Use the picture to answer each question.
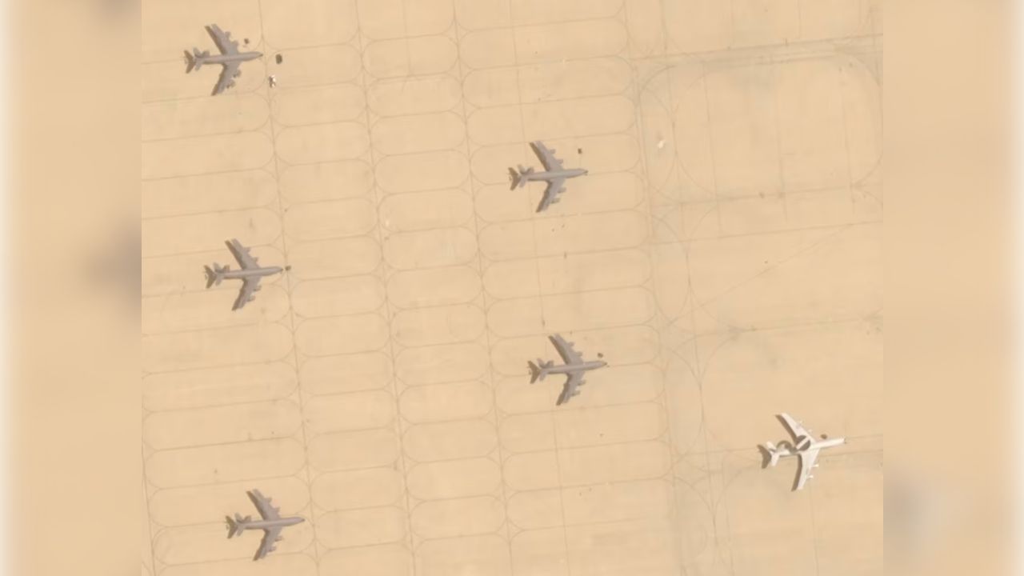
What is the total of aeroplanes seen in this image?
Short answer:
6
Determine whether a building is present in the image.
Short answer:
No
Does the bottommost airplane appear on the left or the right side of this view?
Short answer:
left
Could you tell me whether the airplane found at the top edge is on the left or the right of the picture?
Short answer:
left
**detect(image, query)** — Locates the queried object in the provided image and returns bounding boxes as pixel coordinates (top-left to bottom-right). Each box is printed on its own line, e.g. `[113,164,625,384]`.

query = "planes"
[537,333,607,403]
[517,140,588,210]
[212,238,283,309]
[234,489,304,559]
[766,413,845,488]
[192,23,263,93]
